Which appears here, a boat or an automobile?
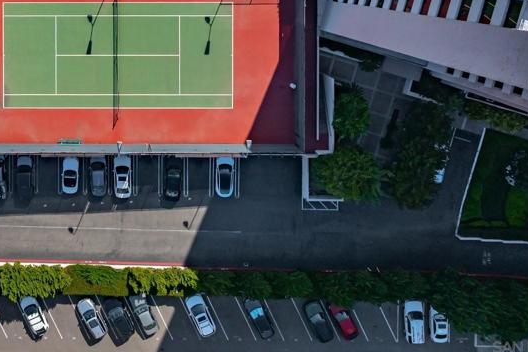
automobile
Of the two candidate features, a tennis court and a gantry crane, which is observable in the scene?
tennis court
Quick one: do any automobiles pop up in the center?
Yes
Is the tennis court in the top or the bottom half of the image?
top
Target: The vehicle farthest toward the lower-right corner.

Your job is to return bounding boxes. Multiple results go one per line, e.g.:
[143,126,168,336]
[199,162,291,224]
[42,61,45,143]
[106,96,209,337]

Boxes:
[428,304,449,344]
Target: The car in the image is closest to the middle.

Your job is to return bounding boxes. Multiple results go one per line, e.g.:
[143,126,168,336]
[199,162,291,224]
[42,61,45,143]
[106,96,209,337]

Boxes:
[216,157,234,196]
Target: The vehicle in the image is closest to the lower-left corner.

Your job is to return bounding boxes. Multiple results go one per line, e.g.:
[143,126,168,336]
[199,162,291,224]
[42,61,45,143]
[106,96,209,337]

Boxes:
[20,297,49,340]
